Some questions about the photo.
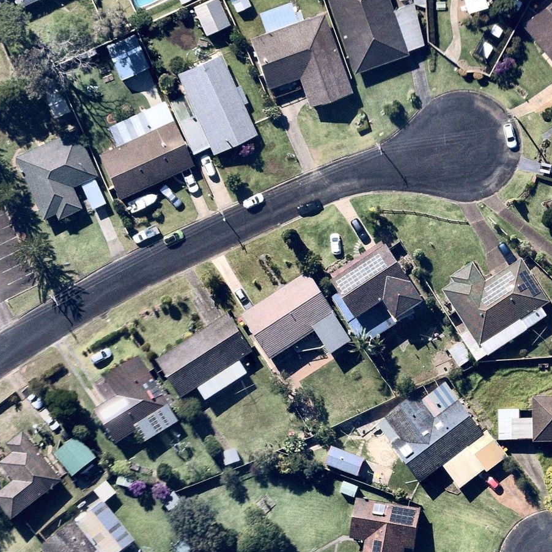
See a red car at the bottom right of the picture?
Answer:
Yes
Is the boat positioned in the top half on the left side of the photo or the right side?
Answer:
left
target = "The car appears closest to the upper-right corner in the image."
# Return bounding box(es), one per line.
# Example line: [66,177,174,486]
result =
[503,123,518,150]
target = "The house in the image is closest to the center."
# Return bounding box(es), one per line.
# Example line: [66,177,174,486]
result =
[242,275,350,360]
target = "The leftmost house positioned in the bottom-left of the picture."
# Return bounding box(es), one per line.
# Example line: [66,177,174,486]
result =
[0,431,62,520]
